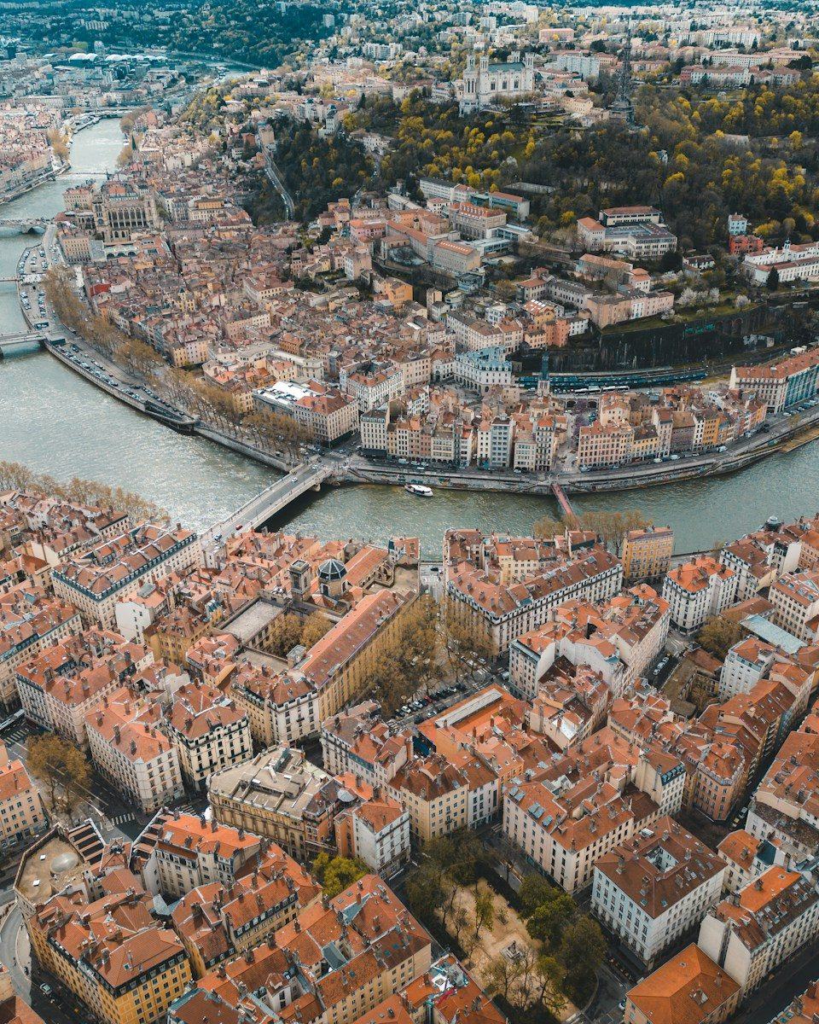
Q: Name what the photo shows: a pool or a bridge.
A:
bridge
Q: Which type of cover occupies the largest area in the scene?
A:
buildings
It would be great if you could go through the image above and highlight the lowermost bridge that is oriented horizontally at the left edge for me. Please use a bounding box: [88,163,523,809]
[0,333,53,353]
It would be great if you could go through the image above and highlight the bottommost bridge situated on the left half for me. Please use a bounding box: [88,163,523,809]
[202,462,332,556]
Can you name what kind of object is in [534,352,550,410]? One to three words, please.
building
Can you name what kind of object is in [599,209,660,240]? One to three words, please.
building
